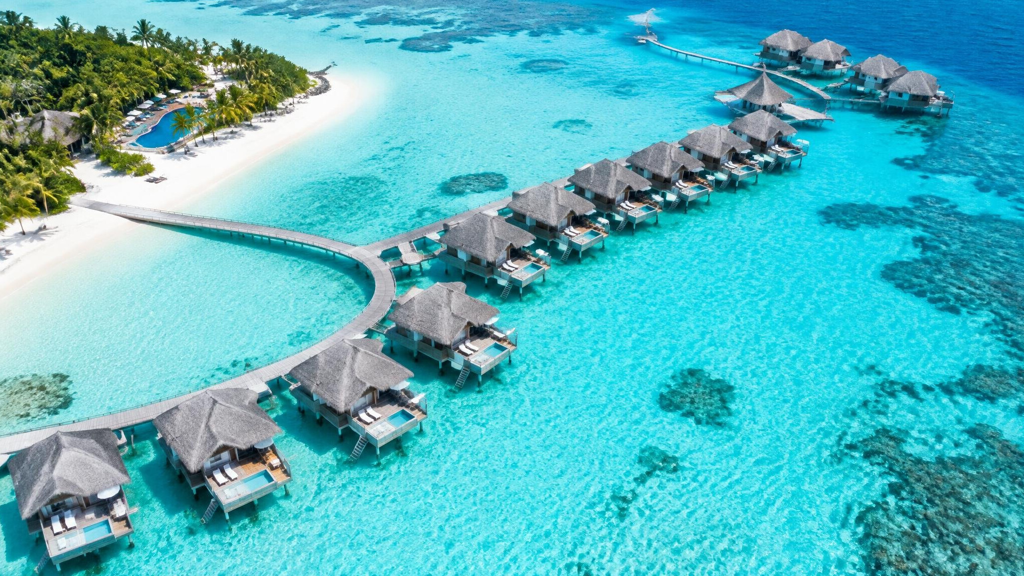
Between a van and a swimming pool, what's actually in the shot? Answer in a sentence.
Visible in the photo is a swimming pool.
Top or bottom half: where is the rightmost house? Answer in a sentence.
The top half of the photo is where the rightmost house is.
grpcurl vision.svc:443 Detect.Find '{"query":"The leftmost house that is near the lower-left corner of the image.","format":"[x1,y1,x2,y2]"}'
[5,417,142,576]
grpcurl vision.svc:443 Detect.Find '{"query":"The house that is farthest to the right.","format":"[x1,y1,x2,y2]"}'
[871,66,959,130]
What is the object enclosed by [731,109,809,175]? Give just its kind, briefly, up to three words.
house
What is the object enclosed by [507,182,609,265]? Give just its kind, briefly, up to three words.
house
